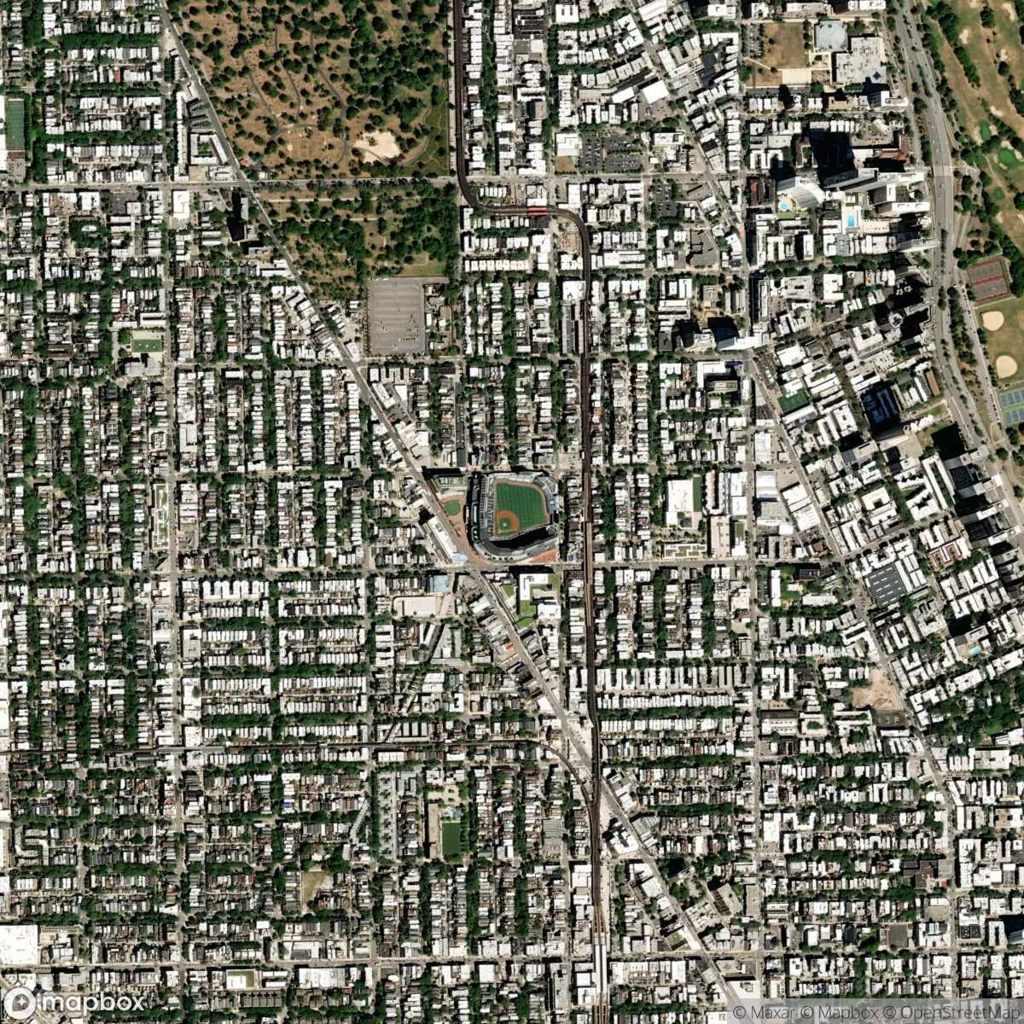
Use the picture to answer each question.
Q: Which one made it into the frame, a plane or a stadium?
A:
stadium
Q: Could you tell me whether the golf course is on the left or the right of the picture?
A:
right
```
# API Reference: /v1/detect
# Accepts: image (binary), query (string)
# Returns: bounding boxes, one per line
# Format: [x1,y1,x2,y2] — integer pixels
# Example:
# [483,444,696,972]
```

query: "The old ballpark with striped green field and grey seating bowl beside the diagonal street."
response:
[468,473,559,564]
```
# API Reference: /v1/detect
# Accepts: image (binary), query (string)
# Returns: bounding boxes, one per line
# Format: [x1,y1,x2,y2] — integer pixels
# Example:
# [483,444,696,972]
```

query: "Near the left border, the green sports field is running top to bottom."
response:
[7,99,25,158]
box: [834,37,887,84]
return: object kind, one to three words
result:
building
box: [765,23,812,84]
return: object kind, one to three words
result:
sports field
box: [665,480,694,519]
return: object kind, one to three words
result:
building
